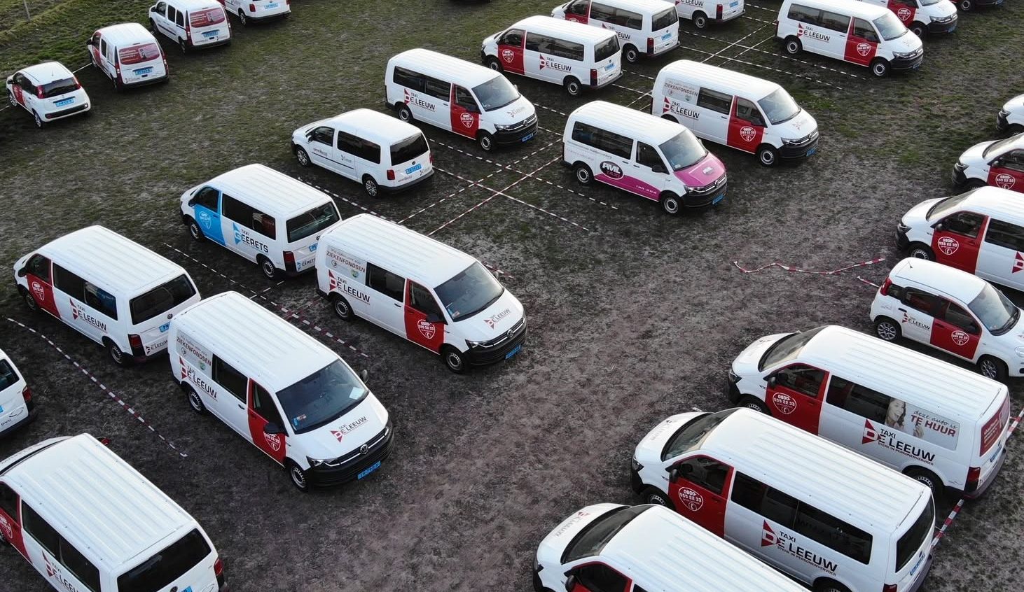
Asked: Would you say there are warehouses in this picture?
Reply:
No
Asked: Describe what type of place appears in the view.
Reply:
parking lot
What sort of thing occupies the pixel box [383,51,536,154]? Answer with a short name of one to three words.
van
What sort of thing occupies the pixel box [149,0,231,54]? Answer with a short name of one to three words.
van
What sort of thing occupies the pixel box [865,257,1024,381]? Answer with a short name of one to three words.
car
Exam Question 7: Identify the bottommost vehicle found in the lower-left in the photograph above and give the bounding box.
[0,425,229,592]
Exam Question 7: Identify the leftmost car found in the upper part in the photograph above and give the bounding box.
[2,60,90,127]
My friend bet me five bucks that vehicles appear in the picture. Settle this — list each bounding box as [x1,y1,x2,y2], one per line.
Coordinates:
[553,0,685,64]
[664,0,744,29]
[948,127,1024,194]
[314,215,525,377]
[0,425,229,592]
[529,498,815,592]
[995,84,1024,133]
[149,0,231,54]
[293,108,432,197]
[892,186,1024,292]
[83,24,169,93]
[773,0,922,77]
[383,51,536,154]
[482,14,623,96]
[2,60,90,127]
[168,293,390,495]
[648,60,817,167]
[627,403,936,592]
[557,101,725,218]
[183,164,343,282]
[0,351,36,442]
[856,0,957,40]
[865,257,1024,381]
[12,225,202,366]
[726,324,1012,508]
[214,0,290,27]
[949,0,1001,13]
